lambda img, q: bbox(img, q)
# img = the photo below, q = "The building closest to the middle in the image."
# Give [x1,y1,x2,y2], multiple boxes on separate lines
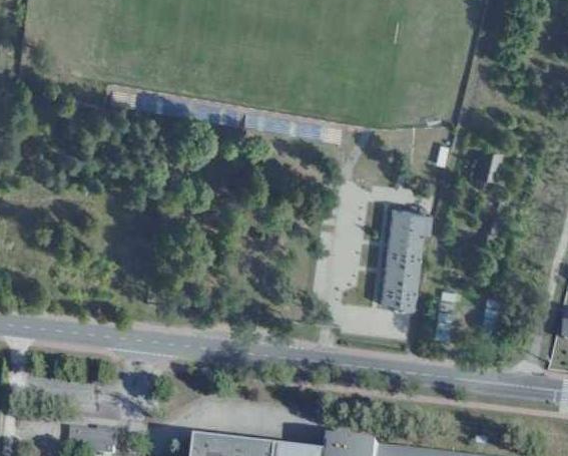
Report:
[380,210,434,316]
